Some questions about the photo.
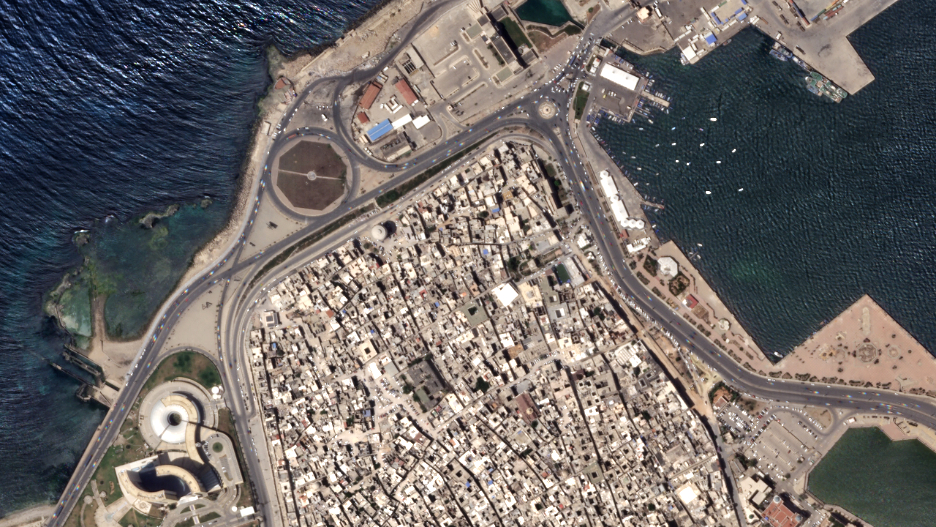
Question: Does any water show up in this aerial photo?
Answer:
Yes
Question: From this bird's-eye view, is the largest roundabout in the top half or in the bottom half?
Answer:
top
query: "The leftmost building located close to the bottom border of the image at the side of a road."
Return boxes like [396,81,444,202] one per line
[115,378,223,513]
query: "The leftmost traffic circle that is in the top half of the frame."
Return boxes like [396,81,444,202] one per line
[263,126,361,226]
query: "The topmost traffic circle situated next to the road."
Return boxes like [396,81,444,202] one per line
[523,86,570,133]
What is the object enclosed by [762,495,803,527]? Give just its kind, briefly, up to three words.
building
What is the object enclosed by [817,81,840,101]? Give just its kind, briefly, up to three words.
ship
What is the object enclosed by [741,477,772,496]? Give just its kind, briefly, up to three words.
building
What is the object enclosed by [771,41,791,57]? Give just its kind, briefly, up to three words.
ship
